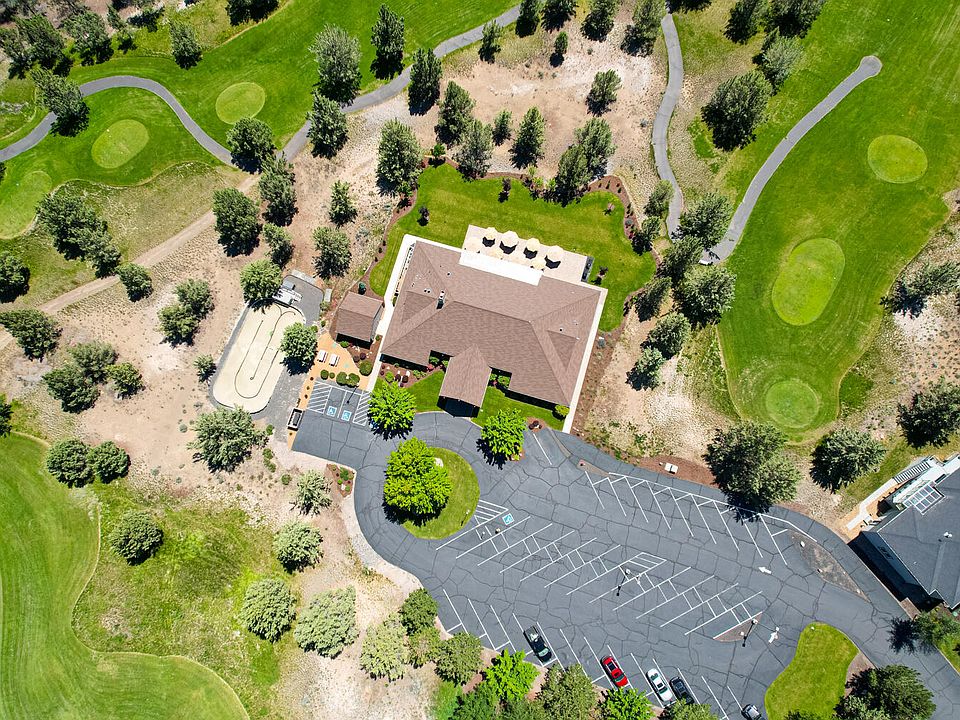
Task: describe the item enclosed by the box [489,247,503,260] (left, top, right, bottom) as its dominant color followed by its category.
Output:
white umbrella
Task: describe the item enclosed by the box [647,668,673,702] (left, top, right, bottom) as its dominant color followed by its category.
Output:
white car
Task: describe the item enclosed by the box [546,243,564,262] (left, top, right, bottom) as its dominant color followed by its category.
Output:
white umbrella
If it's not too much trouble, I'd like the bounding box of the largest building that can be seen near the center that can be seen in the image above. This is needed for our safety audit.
[381,240,603,408]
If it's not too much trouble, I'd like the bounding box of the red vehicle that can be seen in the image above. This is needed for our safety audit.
[602,654,627,686]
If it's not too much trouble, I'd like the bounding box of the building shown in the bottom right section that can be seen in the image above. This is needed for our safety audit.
[862,444,960,608]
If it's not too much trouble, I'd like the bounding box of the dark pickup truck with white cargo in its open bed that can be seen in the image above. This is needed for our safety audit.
[522,624,551,663]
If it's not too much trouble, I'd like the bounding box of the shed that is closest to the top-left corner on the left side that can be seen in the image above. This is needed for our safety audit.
[337,292,382,341]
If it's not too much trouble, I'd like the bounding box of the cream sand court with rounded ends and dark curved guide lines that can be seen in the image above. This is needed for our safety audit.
[206,274,324,442]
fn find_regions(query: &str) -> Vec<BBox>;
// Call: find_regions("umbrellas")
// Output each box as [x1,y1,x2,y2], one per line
[489,247,503,260]
[484,227,497,241]
[531,258,545,271]
[525,236,540,251]
[501,230,518,248]
[546,243,564,262]
[465,237,482,253]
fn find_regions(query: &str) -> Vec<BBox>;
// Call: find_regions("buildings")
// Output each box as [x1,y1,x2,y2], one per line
[381,240,603,408]
[337,292,382,341]
[862,444,960,608]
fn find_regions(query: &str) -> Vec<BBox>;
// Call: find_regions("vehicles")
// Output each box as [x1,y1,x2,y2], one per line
[647,668,673,702]
[670,675,695,707]
[743,702,765,720]
[522,624,551,663]
[602,654,627,686]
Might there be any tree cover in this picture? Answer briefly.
Yes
